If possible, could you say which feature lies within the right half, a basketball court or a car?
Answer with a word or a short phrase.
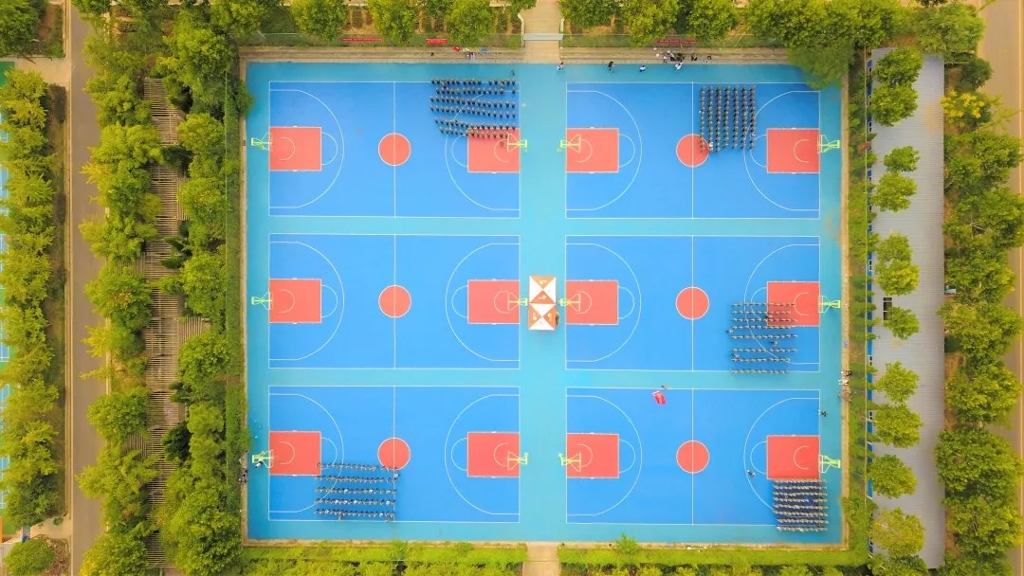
basketball court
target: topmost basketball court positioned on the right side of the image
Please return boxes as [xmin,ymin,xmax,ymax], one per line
[566,82,820,219]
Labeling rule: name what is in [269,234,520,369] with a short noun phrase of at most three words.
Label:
basketball court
